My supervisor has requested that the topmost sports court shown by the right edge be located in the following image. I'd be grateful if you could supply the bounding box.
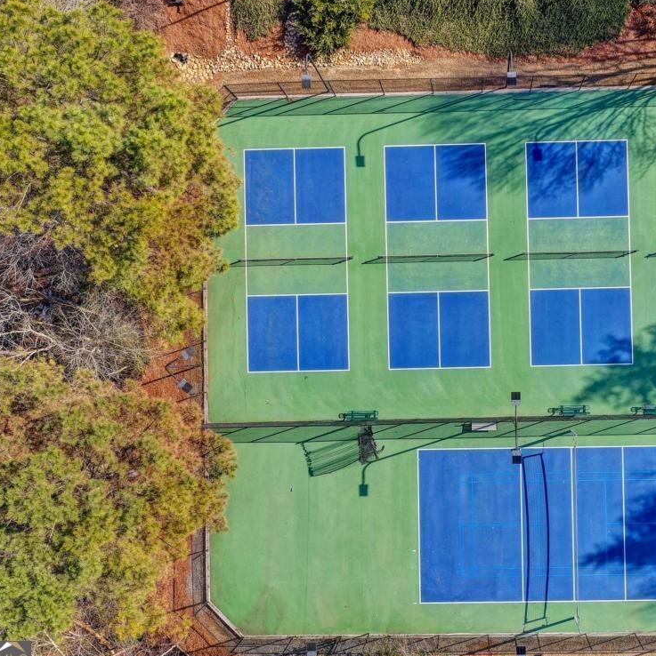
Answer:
[526,140,634,367]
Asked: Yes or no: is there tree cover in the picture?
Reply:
Yes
